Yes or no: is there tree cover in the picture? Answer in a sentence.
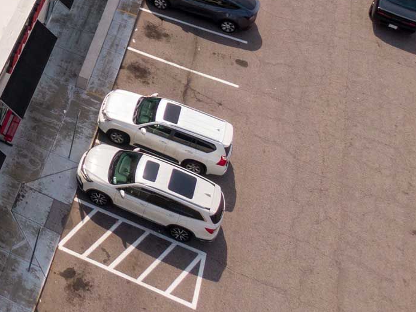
No, there is no tree cover in the image.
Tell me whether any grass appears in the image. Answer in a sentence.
No, grass can't be seen anywhere here.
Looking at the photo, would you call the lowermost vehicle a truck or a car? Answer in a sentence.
From above, the lowermost vehicle can be identified as a car.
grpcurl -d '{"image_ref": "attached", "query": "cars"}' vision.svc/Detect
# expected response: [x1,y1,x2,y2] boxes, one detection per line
[97,94,235,174]
[75,152,227,249]
[147,0,261,36]
[369,0,416,35]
